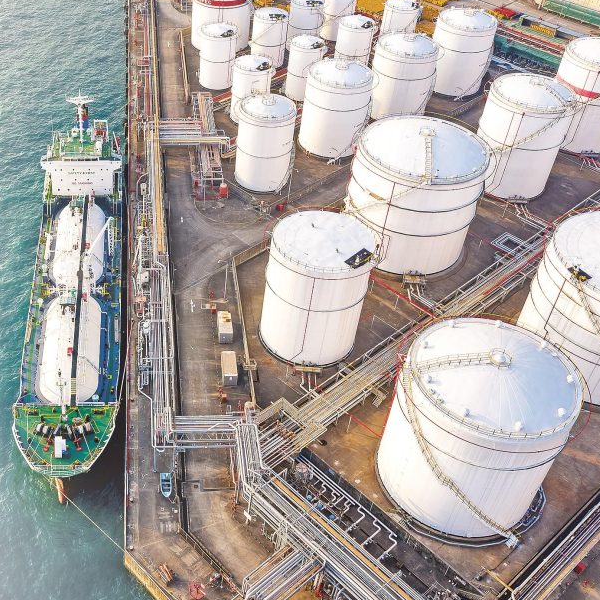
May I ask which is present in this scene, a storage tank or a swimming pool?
storage tank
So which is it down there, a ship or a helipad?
ship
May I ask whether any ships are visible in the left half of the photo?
Yes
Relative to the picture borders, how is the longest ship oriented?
vertically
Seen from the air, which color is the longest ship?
white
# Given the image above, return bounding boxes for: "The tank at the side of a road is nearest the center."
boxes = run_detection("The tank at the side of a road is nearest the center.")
[257,204,379,375]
